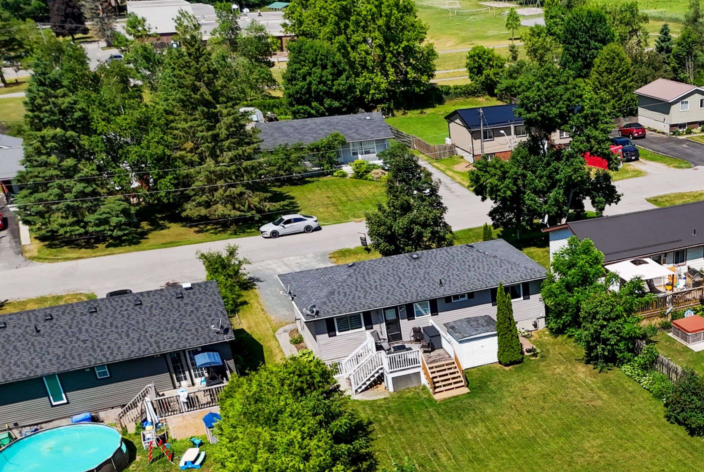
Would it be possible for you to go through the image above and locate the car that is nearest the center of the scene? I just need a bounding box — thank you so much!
[258,213,322,242]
